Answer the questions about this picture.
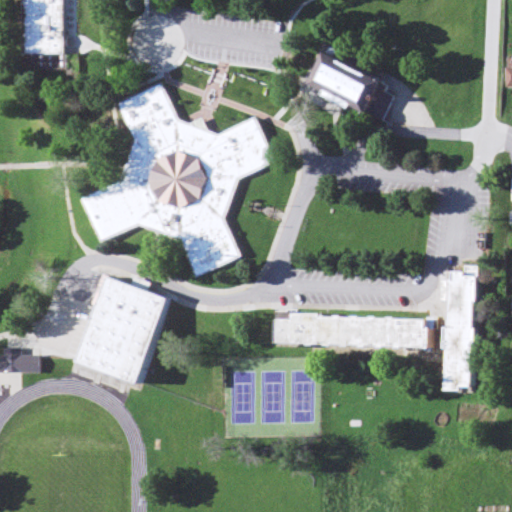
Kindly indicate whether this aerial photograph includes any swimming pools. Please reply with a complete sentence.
No, I can't see a single swimming pool in this photo.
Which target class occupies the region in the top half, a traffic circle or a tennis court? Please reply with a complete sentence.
Looking in the top half, you will find a traffic circle.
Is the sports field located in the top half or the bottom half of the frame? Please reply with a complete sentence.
You can find the sports field in the bottom half.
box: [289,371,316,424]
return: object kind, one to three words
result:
tennis court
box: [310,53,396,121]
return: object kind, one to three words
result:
house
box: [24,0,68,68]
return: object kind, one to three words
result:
building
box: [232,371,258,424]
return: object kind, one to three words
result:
tennis court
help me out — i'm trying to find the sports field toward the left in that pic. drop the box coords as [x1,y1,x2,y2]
[0,396,131,512]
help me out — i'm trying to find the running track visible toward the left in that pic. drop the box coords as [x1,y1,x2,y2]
[0,378,148,512]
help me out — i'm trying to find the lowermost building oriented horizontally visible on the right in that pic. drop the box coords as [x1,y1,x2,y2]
[274,313,429,349]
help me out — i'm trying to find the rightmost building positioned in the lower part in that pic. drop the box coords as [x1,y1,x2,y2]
[440,265,482,393]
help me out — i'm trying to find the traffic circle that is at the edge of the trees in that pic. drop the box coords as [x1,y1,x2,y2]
[128,14,186,72]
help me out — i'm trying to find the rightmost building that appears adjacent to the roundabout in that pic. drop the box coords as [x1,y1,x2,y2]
[81,85,270,276]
